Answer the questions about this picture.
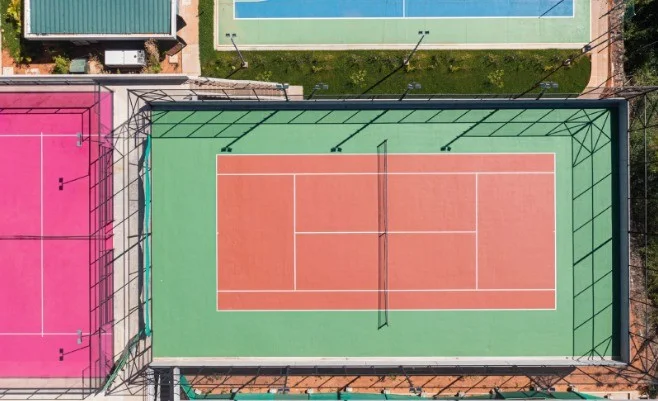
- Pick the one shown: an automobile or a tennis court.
tennis court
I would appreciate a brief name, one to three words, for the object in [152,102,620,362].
tennis court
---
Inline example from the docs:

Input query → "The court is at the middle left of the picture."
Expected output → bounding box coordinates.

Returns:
[0,92,113,378]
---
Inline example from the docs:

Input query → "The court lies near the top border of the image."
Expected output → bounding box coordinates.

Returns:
[214,0,592,50]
